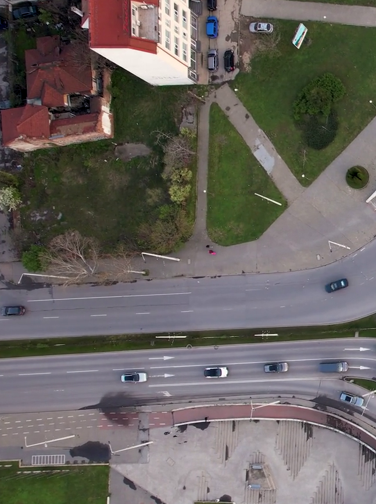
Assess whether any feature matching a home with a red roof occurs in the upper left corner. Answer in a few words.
Yes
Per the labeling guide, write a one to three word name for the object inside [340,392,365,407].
car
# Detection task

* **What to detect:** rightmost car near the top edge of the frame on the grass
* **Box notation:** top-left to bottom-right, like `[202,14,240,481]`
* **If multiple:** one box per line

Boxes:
[251,22,274,35]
